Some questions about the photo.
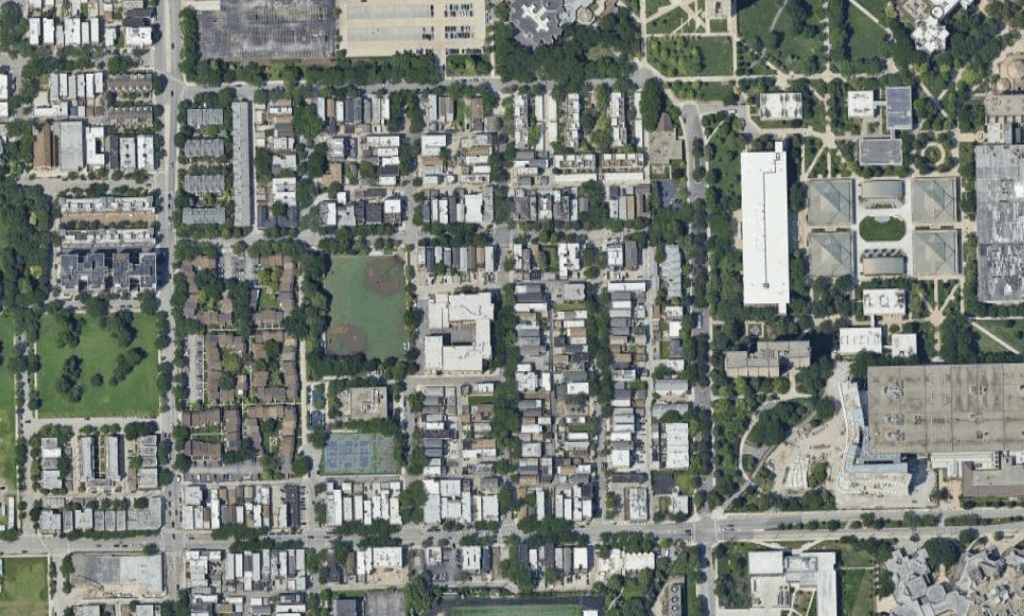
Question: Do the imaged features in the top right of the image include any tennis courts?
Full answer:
No, I can find no tennis court in the top right of the image.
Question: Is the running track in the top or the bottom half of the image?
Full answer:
The running track is in the bottom half of the image.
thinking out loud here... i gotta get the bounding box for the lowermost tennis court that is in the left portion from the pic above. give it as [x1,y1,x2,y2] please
[324,433,396,475]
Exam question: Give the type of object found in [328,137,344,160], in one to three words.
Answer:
house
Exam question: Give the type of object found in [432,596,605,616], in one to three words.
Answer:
running track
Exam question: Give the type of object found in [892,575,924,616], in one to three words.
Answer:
building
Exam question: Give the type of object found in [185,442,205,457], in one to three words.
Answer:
house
